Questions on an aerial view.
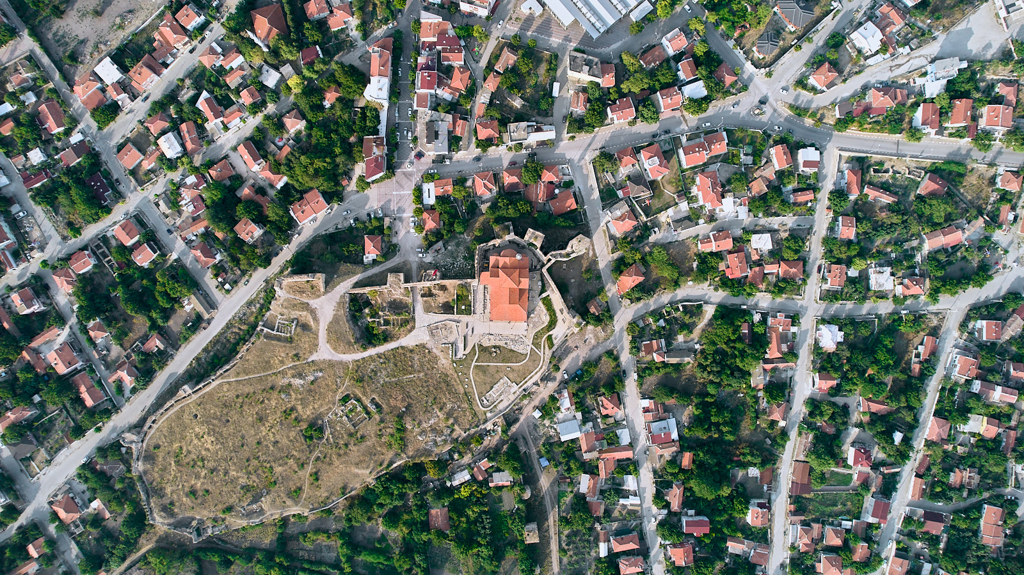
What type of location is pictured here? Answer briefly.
residential area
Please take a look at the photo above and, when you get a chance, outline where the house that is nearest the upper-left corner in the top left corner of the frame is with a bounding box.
[9,59,30,87]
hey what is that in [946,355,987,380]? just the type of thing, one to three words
building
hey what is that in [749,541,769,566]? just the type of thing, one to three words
house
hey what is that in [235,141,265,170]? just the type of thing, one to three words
house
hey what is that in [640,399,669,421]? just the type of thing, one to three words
shed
